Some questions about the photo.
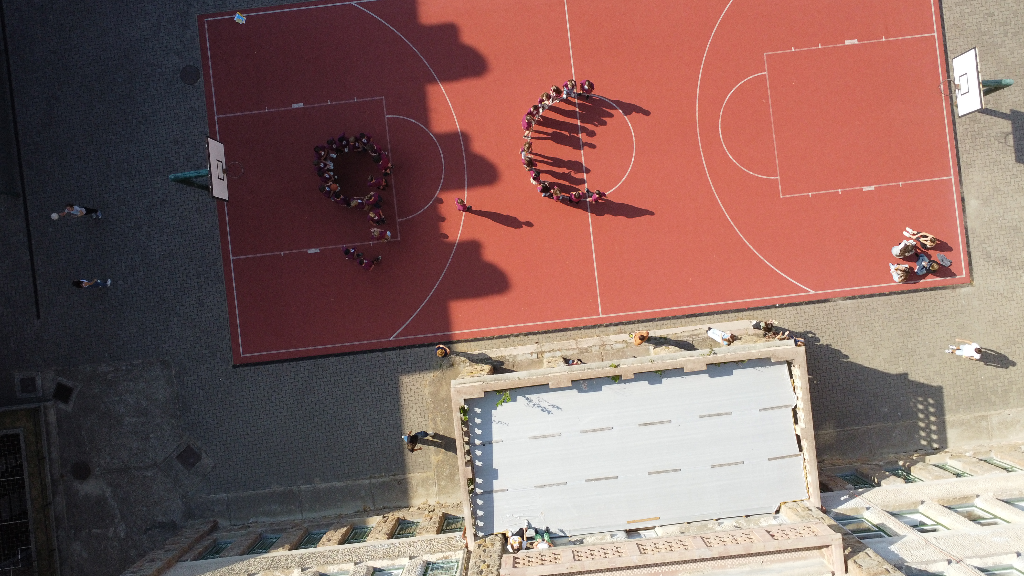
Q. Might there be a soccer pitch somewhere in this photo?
No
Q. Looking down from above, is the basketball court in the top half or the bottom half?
top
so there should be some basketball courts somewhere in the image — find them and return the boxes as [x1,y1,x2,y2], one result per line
[197,0,970,364]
